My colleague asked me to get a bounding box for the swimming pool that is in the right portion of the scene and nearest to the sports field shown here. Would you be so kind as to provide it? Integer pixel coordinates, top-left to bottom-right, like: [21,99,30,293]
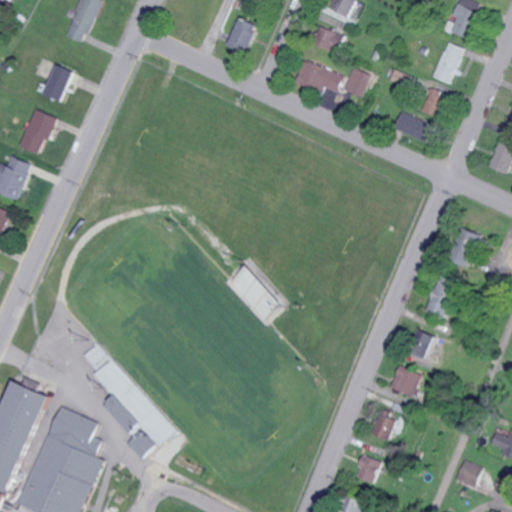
[393,416,406,436]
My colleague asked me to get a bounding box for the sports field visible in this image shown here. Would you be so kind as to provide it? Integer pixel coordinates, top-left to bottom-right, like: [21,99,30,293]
[62,210,326,486]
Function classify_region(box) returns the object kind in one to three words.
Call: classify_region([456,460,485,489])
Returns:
building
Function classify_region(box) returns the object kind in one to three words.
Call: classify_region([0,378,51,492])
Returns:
building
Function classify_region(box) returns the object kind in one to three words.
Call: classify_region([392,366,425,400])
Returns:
house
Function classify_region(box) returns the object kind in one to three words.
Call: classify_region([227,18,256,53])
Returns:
house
